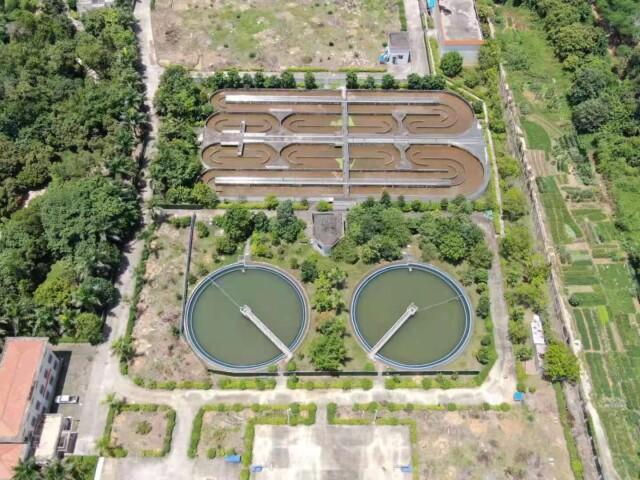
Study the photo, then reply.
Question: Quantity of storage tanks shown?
2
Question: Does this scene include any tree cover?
Yes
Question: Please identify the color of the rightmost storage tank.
green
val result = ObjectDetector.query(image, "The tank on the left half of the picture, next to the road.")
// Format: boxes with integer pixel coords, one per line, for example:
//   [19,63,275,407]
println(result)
[184,254,311,374]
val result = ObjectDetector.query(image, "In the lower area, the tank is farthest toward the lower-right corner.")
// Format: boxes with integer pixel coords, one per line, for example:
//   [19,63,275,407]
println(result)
[349,256,474,373]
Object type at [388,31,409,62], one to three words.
shed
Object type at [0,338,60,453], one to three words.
building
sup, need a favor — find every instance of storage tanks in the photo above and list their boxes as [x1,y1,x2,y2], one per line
[184,254,311,374]
[349,256,474,373]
